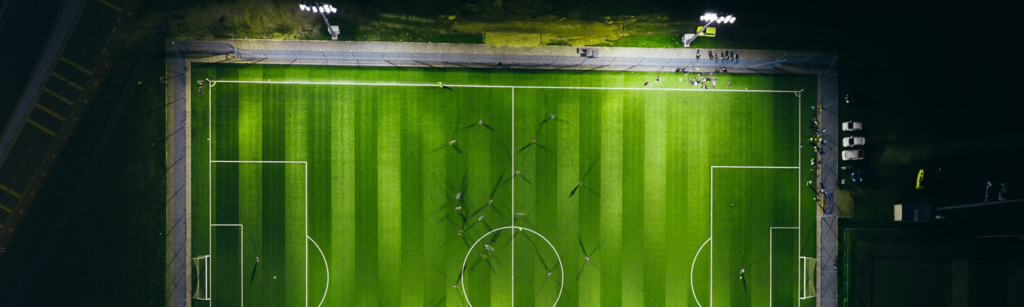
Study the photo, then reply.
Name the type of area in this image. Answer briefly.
sports ground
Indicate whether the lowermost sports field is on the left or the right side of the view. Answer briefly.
right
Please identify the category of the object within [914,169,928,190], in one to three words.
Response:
car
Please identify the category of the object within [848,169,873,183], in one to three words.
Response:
car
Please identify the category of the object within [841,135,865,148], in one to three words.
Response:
vehicle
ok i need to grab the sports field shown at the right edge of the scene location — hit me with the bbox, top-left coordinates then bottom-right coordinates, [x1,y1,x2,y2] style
[845,229,1024,307]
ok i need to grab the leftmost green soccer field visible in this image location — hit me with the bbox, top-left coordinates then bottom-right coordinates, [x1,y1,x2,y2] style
[190,61,817,307]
